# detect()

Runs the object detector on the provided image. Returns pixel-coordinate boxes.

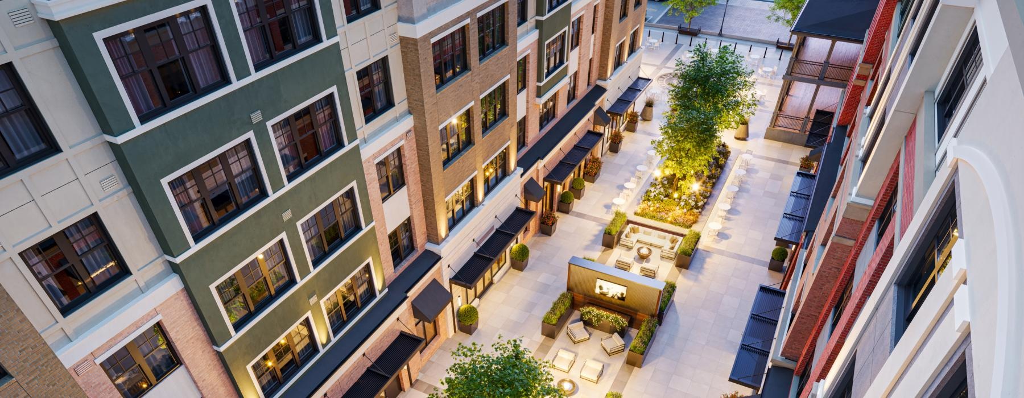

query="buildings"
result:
[0,0,653,398]
[728,0,1024,398]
